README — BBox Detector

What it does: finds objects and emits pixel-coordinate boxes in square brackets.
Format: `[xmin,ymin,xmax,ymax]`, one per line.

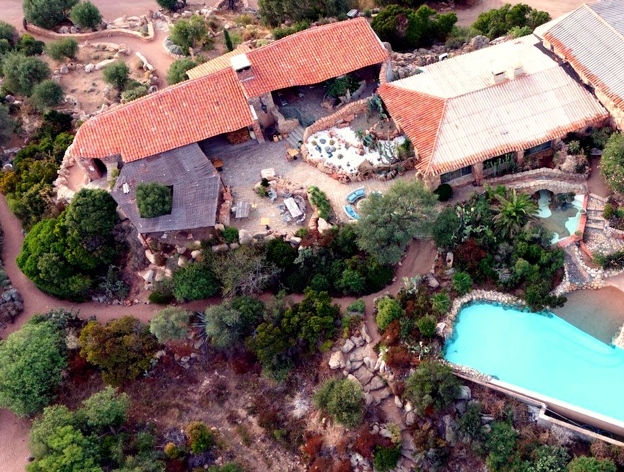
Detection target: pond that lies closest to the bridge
[536,193,594,259]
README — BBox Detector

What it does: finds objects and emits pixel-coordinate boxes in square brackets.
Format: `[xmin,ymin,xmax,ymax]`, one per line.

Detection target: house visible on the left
[71,16,390,177]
